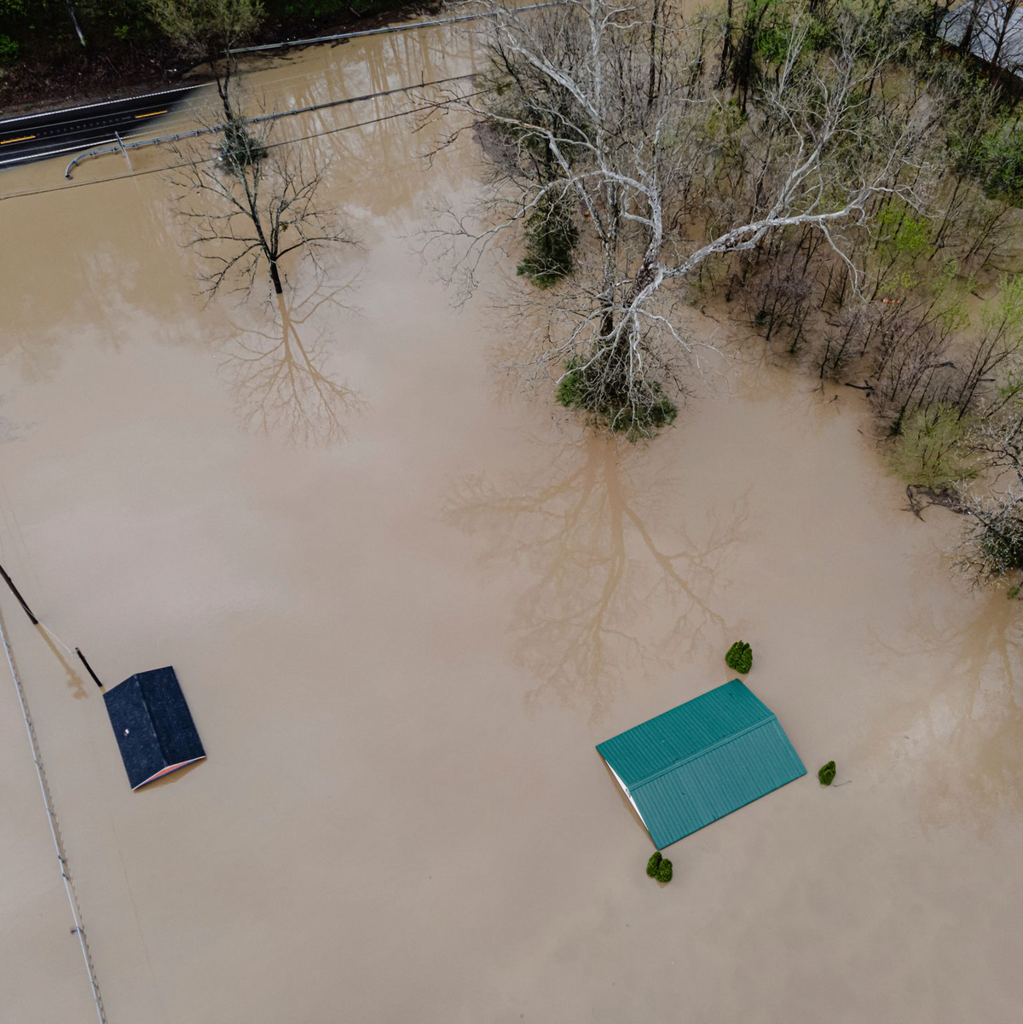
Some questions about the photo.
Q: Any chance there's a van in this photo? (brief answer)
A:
No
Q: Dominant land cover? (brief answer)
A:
water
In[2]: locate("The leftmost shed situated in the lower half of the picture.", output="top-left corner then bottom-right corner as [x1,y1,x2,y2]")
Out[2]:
[102,666,206,792]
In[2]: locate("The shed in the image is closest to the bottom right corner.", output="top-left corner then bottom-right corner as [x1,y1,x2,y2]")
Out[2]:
[596,679,807,851]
